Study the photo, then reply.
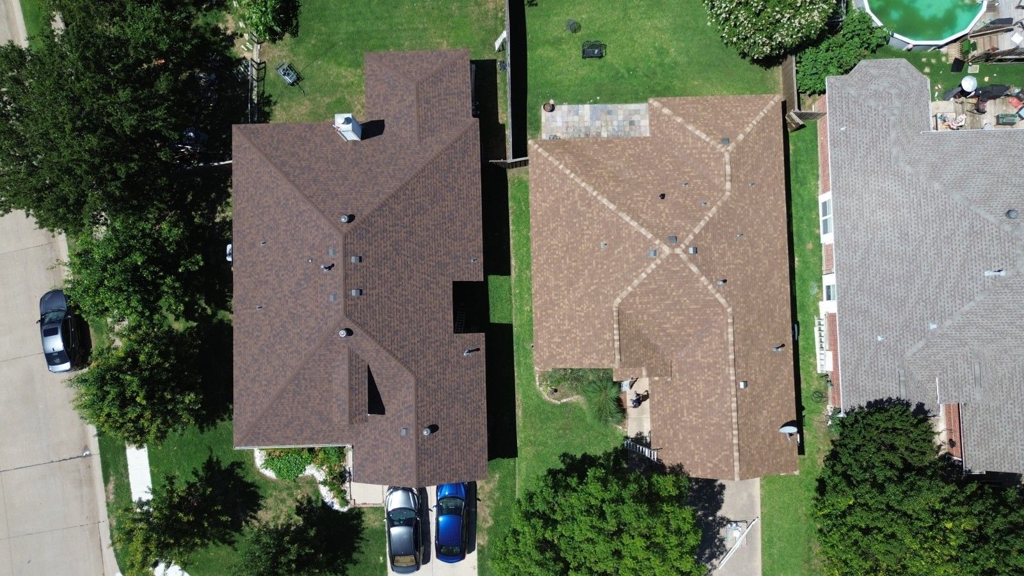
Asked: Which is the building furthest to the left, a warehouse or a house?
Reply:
house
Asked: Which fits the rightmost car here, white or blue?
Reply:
blue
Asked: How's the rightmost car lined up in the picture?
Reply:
from top to bottom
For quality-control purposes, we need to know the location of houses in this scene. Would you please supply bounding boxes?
[231,47,487,487]
[527,93,798,480]
[819,59,1024,478]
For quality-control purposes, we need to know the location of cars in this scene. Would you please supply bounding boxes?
[381,488,422,576]
[34,289,85,375]
[433,483,471,567]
